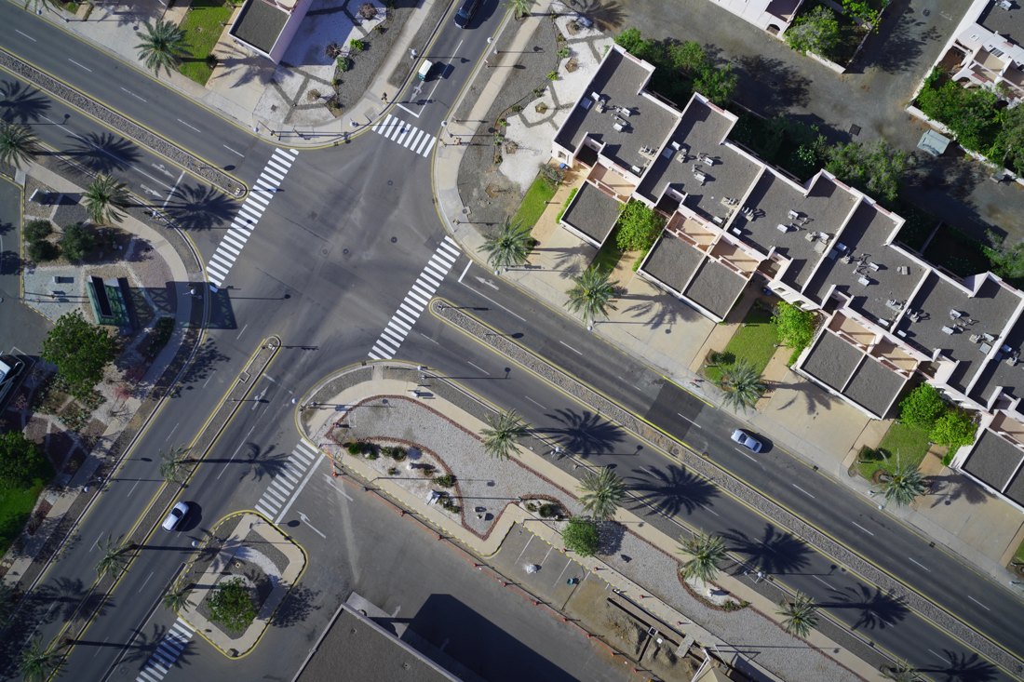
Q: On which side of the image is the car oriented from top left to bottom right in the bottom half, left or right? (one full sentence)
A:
It is on the right.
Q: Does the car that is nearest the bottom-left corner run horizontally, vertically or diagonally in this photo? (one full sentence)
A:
In this picture, the car that is nearest the bottom-left corner is oriented diagonally.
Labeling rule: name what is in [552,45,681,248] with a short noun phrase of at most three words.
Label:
house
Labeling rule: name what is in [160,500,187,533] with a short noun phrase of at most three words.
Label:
car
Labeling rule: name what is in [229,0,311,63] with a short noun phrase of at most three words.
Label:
house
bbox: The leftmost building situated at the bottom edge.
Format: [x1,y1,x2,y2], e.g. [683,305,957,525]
[293,593,471,682]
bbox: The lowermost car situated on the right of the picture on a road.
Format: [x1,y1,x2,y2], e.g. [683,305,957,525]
[731,429,763,453]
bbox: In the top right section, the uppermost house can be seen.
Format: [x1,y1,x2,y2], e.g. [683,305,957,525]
[712,0,812,40]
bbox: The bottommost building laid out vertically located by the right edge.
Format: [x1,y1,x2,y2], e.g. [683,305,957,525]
[947,308,1024,493]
